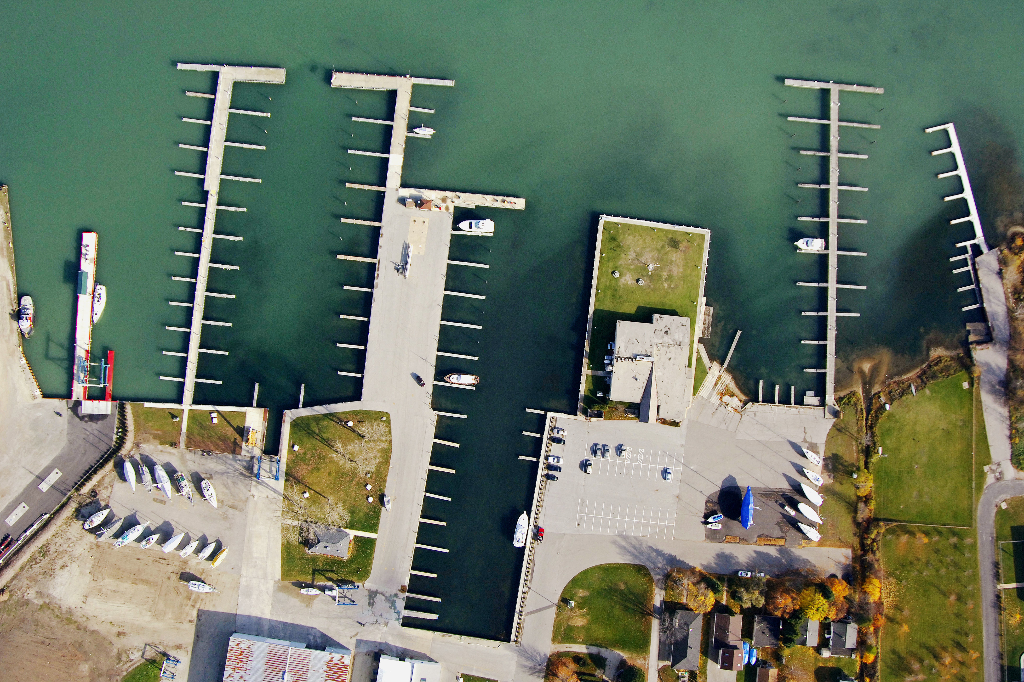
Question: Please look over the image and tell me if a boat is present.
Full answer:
Yes, a boat appears in the view.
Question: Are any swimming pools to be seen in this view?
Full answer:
No, the scene contains no swimming pool.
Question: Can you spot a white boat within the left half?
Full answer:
Yes, a white boat can be seen within the left half.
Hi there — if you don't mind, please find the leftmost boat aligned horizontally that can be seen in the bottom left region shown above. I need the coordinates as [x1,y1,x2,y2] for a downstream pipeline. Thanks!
[178,582,228,596]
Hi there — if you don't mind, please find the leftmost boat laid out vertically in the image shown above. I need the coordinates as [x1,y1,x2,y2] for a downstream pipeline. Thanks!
[16,296,35,337]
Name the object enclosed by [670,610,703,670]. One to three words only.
house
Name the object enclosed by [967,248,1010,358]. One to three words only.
pier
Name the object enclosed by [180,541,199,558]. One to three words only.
boat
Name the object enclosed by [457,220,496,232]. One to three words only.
boat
